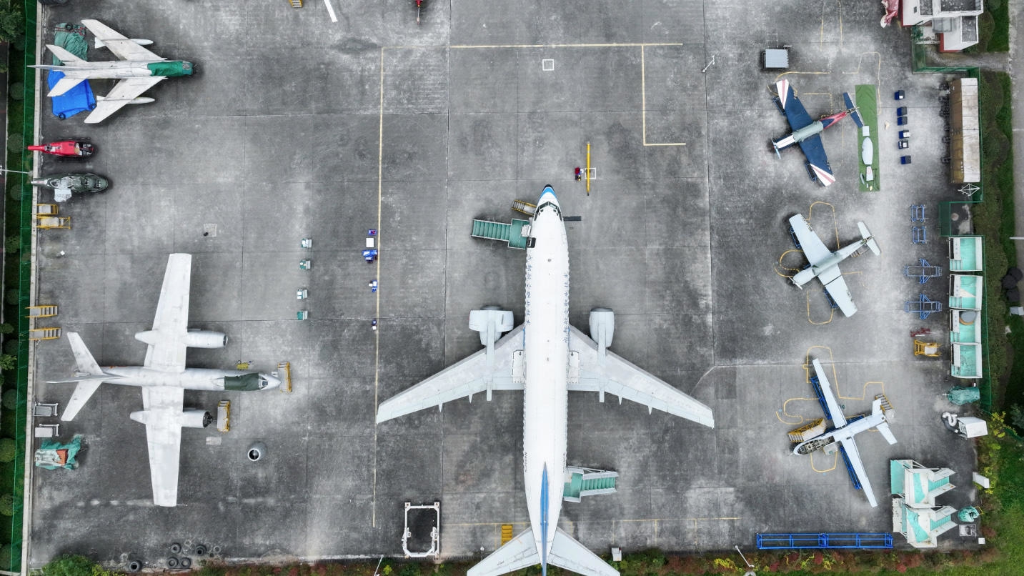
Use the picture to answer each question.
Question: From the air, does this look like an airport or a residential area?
airport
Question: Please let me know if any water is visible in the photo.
No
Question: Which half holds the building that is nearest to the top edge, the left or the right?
right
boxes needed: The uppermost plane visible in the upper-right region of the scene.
[772,80,863,185]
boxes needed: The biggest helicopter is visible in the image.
[30,173,110,202]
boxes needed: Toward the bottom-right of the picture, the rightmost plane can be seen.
[790,358,897,507]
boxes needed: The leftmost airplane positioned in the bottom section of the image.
[46,254,281,507]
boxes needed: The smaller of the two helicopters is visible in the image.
[26,138,95,163]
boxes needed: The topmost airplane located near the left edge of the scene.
[27,19,197,123]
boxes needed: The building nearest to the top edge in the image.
[899,0,982,51]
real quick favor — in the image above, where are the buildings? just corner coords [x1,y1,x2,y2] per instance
[899,0,982,51]
[950,77,980,184]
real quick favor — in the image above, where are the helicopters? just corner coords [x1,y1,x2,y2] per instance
[26,138,95,163]
[30,173,110,202]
